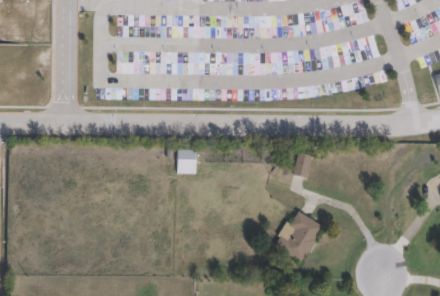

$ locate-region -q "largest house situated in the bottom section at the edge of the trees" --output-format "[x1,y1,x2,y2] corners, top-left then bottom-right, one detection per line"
[277,212,320,259]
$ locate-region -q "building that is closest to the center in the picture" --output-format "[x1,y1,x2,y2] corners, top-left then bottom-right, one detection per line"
[176,150,198,175]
